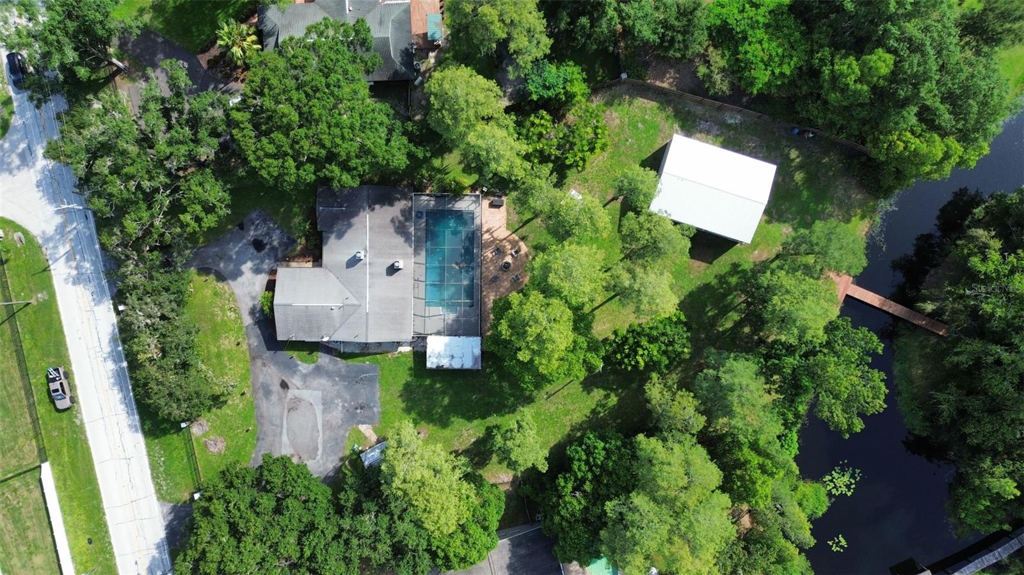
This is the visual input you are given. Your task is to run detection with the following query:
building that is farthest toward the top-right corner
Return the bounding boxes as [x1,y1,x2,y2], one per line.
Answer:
[646,134,776,245]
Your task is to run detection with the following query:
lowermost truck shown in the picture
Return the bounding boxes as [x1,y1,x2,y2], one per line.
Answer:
[48,365,79,411]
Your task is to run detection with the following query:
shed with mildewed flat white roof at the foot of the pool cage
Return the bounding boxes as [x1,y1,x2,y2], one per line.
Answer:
[427,337,481,370]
